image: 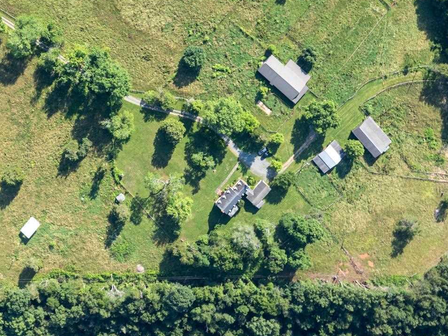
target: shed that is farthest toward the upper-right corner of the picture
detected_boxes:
[350,116,392,158]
